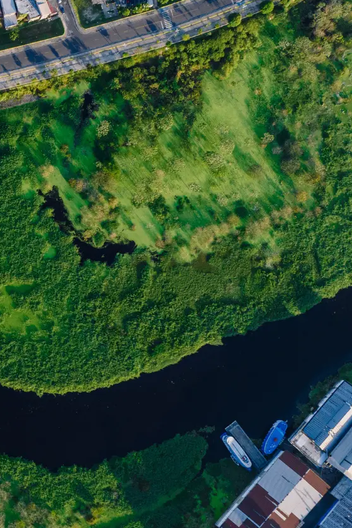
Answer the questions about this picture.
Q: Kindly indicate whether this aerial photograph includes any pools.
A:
No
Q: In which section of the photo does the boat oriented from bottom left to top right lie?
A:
bottom right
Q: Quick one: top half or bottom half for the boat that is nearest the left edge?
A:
bottom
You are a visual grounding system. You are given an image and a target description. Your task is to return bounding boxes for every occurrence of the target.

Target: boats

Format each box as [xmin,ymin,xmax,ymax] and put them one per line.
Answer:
[221,432,252,474]
[263,419,286,454]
